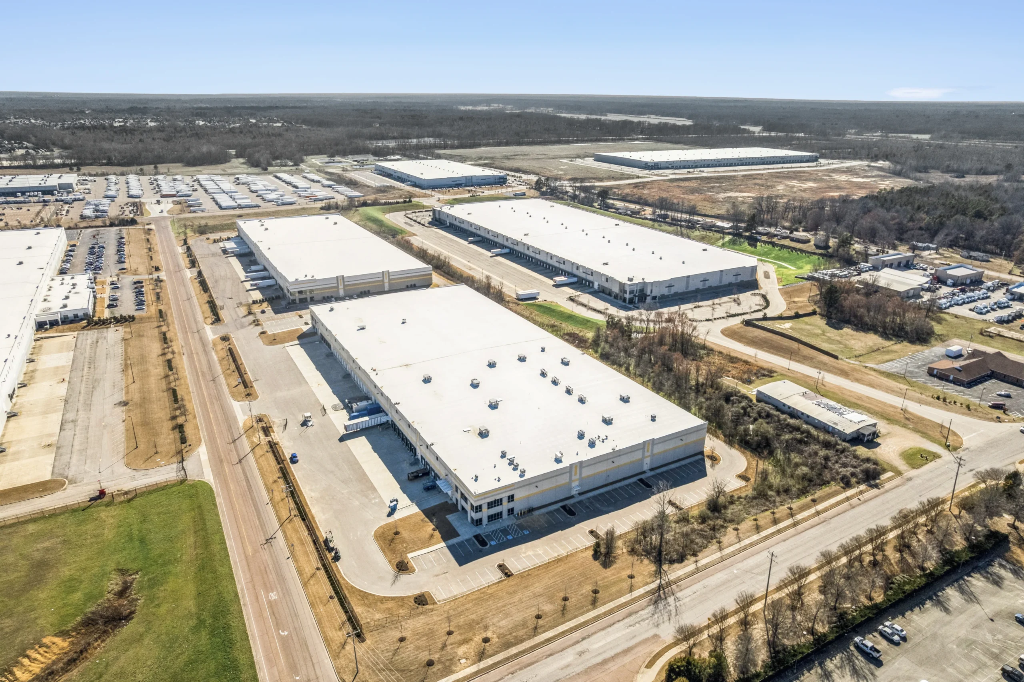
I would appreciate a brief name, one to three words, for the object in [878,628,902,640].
vehicle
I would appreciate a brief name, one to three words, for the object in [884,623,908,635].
vehicle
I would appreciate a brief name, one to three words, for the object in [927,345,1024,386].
building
